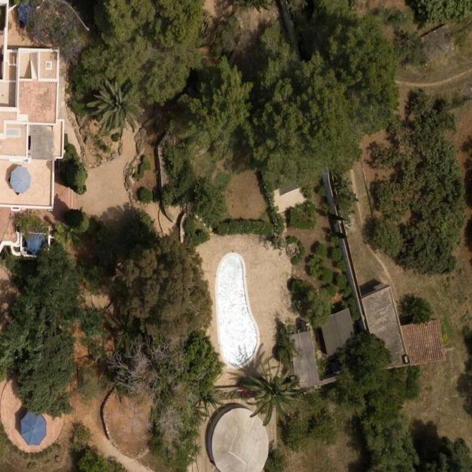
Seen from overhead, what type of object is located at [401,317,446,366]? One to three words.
shed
